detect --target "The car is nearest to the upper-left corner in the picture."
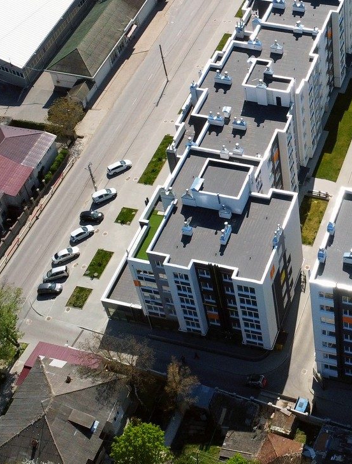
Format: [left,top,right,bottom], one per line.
[104,157,134,176]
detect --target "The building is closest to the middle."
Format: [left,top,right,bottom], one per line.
[101,149,303,350]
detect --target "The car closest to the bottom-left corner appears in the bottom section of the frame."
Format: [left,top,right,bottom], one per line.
[32,279,66,296]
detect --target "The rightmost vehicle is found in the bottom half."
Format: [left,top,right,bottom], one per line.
[292,392,311,420]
